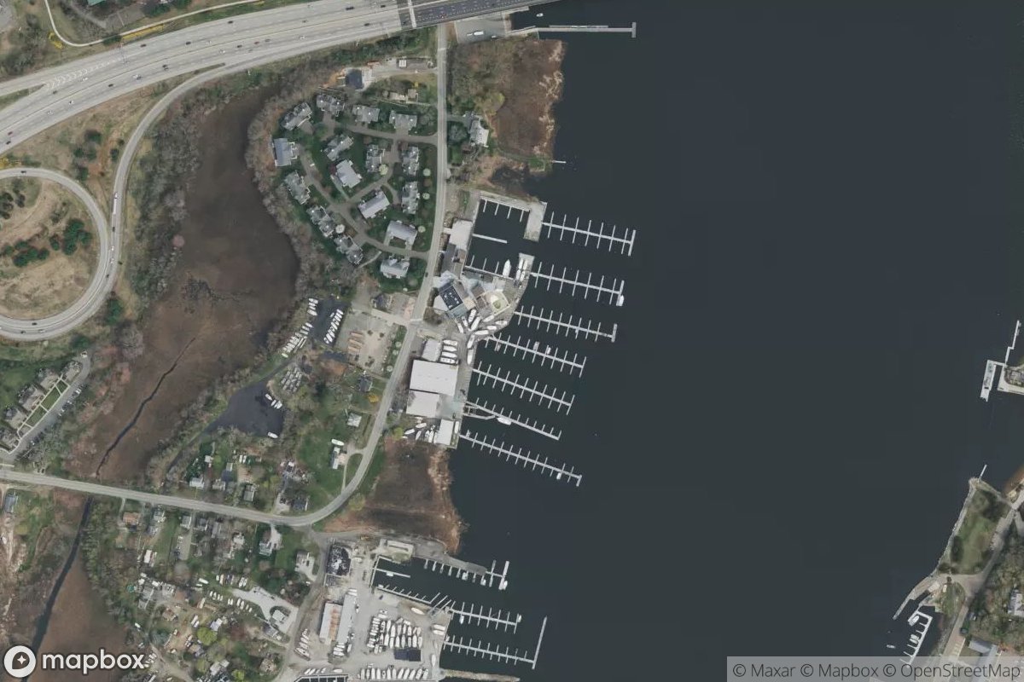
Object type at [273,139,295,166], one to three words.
house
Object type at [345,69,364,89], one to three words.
building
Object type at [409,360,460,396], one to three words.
shed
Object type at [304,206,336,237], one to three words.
house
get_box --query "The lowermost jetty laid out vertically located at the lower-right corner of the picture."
[900,604,933,666]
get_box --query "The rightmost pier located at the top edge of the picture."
[534,22,636,37]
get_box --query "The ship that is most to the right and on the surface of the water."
[981,360,1004,401]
